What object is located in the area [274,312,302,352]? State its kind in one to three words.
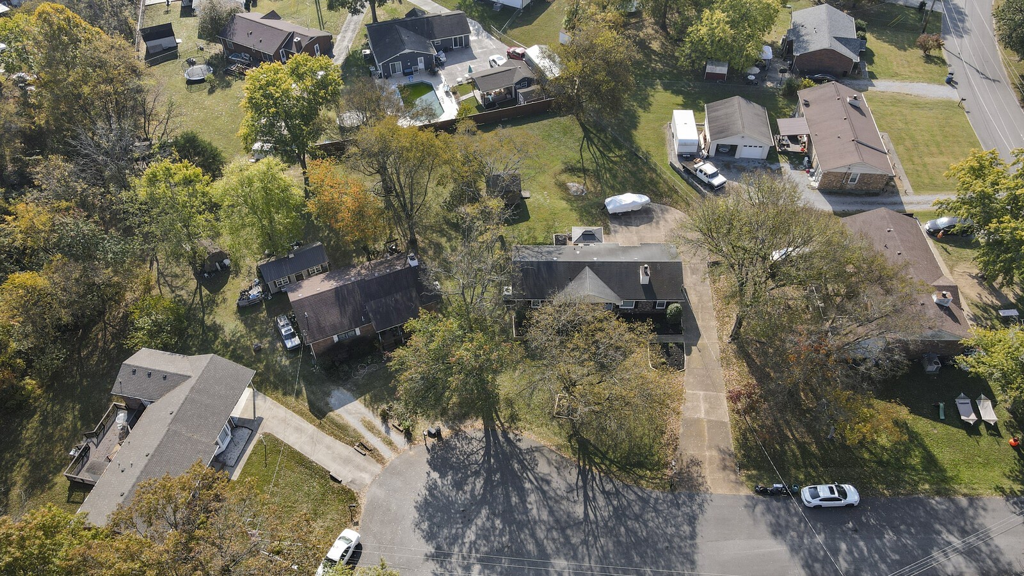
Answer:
car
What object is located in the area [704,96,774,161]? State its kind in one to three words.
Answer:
building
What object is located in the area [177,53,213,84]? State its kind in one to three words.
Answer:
trampoline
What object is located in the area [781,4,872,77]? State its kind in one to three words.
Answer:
house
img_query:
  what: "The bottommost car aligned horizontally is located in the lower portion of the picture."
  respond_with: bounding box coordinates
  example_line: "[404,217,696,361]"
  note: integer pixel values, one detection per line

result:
[803,481,863,510]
